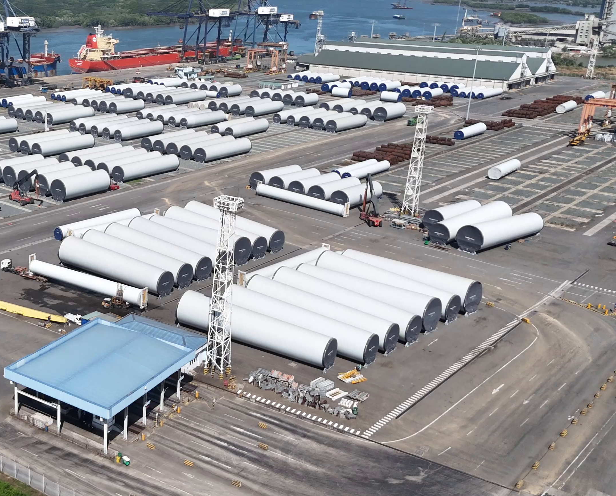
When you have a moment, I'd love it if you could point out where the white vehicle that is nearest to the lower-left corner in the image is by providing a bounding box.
[64,313,83,325]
